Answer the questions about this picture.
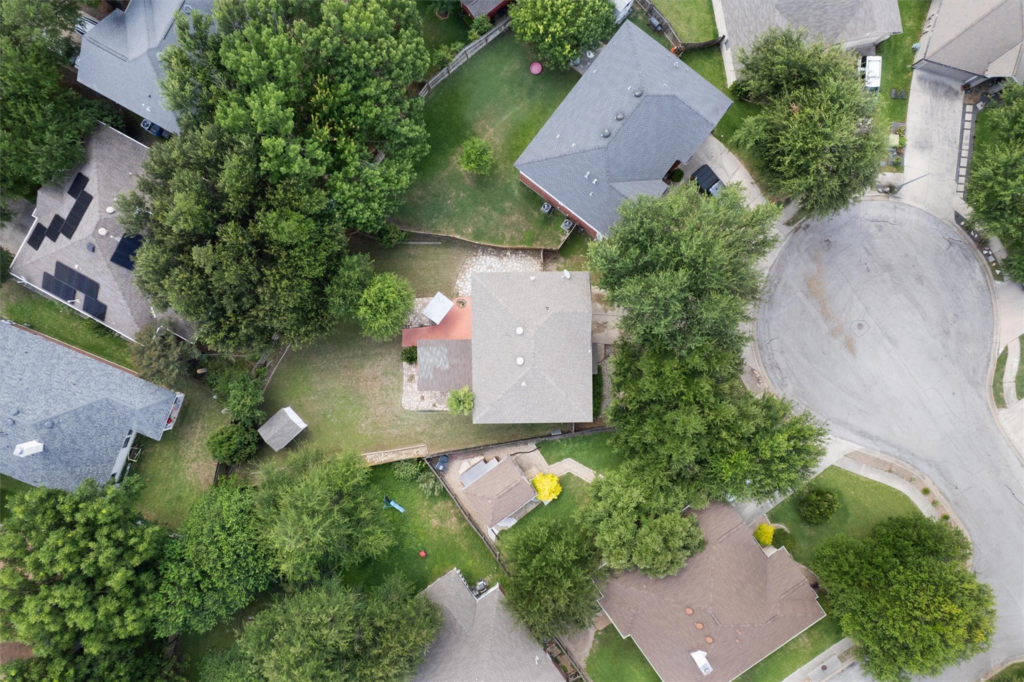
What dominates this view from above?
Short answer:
trees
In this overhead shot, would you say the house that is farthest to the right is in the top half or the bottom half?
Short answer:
top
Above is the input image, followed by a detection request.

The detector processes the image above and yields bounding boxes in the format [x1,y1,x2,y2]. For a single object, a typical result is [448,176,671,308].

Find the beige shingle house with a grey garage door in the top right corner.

[911,0,1024,85]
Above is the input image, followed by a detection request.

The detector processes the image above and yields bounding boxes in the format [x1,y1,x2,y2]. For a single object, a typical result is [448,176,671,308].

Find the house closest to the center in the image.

[417,269,599,424]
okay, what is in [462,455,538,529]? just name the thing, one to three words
house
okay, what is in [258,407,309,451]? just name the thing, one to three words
shed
